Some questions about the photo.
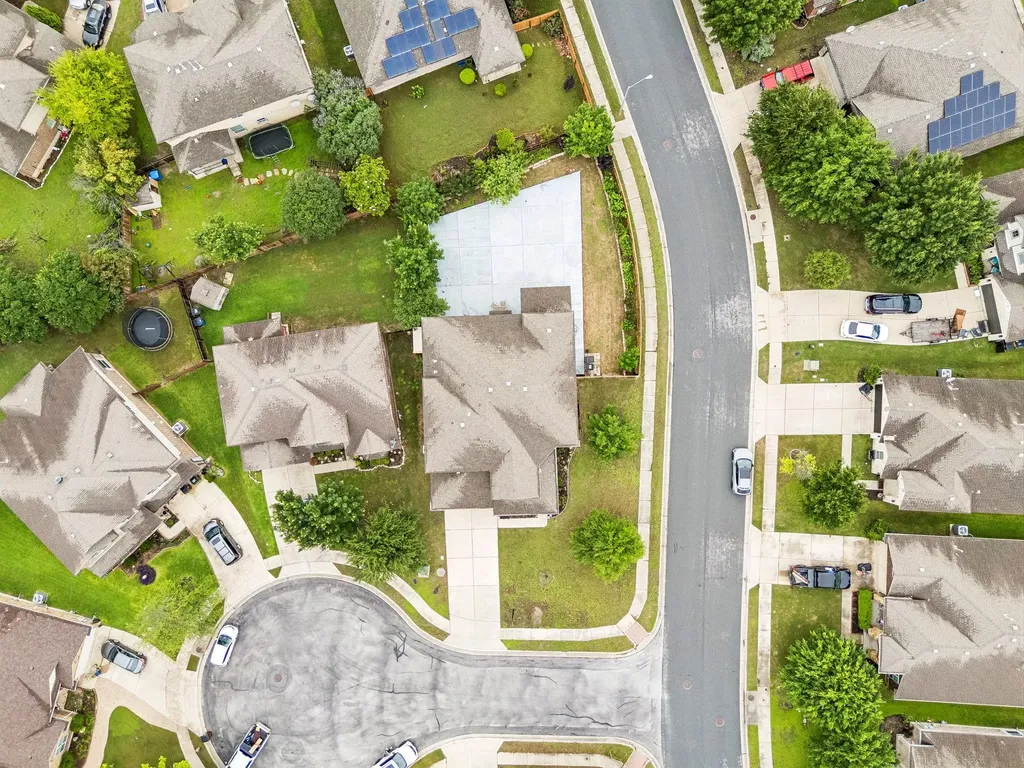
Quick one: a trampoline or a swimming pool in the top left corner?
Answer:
trampoline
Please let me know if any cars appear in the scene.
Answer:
Yes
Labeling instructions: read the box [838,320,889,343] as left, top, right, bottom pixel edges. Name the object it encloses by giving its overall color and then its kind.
white car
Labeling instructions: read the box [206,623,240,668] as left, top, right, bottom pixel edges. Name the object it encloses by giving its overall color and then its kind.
white car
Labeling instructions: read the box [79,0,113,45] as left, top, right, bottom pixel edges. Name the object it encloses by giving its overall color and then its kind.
gray car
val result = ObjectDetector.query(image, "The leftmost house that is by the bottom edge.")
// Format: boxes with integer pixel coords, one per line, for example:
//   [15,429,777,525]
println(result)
[0,595,108,768]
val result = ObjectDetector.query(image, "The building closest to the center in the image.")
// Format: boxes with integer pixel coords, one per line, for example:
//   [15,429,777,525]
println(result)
[412,286,579,517]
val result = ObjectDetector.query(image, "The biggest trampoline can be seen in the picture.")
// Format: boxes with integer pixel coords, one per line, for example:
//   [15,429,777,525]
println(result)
[118,306,172,351]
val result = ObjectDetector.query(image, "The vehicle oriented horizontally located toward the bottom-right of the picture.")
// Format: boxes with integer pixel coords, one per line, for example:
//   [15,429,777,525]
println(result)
[787,564,853,591]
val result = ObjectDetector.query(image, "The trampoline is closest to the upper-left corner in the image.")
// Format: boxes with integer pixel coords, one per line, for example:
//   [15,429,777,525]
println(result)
[244,120,295,163]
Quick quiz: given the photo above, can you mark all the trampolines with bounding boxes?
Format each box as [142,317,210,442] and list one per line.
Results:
[244,120,295,163]
[118,306,172,351]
